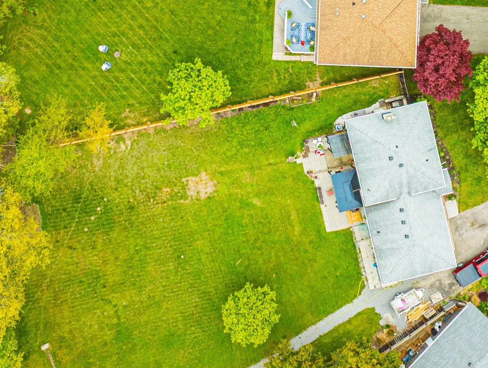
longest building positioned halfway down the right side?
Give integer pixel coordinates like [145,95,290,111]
[343,101,457,287]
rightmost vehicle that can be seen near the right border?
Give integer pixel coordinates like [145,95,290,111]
[450,245,488,289]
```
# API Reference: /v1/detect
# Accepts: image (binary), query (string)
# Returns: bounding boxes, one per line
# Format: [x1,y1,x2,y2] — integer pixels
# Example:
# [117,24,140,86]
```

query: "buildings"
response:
[400,298,488,368]
[314,0,422,69]
[343,101,457,287]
